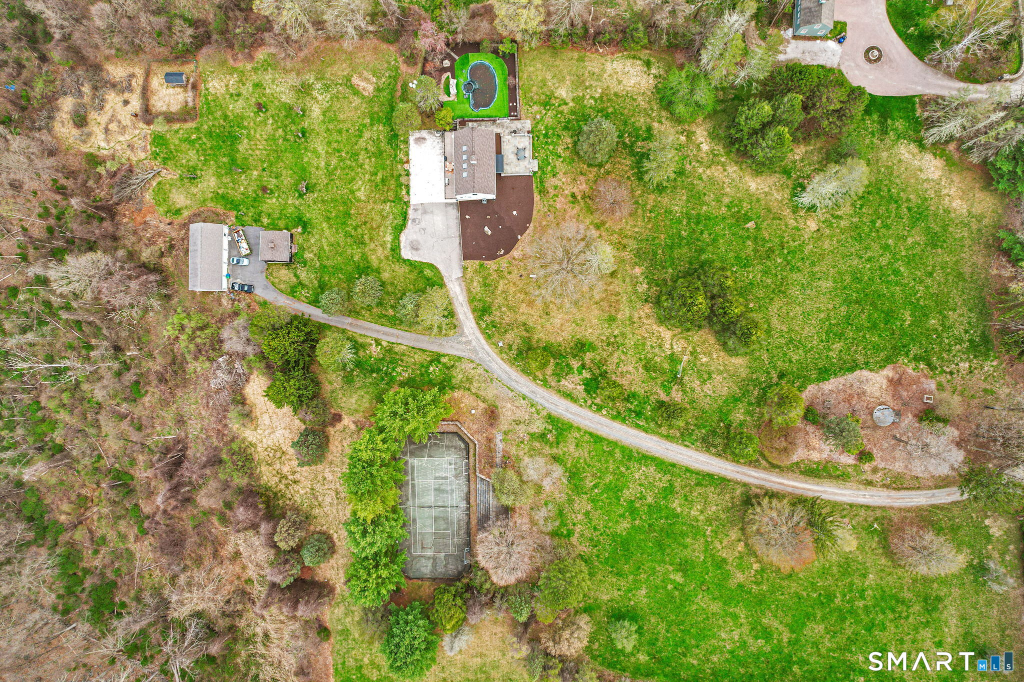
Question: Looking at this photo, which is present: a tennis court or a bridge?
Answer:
tennis court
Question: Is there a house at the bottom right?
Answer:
No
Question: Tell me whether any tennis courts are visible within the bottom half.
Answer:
Yes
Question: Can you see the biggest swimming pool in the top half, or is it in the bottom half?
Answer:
top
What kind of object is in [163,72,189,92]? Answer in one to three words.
shed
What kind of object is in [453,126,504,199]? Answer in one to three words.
house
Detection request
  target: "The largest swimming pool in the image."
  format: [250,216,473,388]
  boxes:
[467,60,498,112]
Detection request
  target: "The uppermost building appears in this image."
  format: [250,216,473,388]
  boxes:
[790,0,834,37]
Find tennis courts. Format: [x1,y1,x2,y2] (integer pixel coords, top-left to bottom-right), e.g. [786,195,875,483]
[397,433,470,580]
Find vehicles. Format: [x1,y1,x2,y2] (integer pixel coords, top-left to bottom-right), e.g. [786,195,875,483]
[229,256,249,266]
[229,282,254,292]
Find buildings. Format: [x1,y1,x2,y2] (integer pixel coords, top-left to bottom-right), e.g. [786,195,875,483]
[790,0,834,37]
[260,230,294,263]
[163,72,189,92]
[453,126,504,199]
[189,221,228,290]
